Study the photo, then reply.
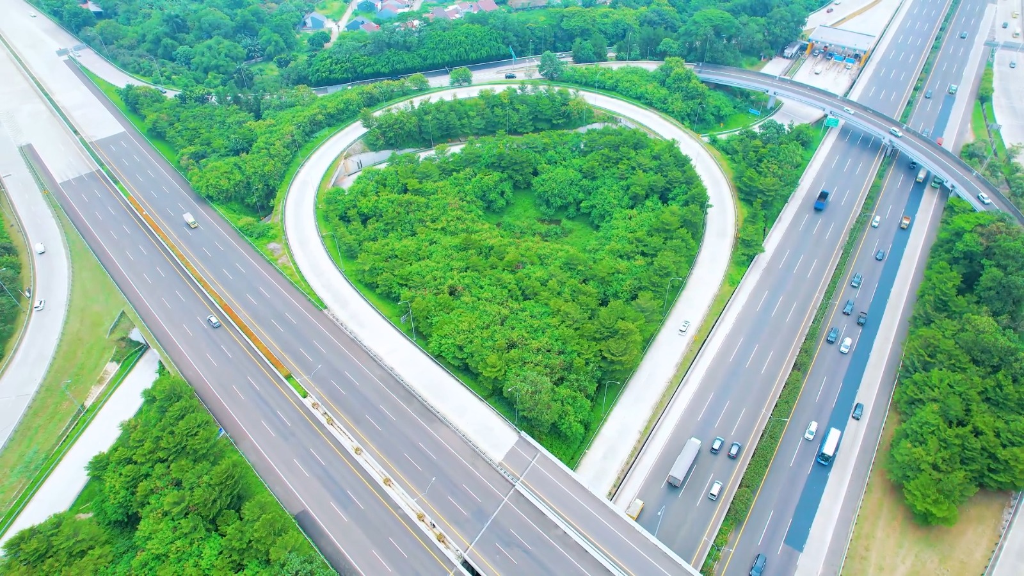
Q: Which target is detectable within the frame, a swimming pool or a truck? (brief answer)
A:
truck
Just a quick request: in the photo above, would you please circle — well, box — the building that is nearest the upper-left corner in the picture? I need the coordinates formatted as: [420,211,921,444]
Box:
[303,11,335,34]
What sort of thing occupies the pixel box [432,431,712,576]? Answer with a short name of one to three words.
bridge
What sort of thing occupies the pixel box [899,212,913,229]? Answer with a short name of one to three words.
vehicle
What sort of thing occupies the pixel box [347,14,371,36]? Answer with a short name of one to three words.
house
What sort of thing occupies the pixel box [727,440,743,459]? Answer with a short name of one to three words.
car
